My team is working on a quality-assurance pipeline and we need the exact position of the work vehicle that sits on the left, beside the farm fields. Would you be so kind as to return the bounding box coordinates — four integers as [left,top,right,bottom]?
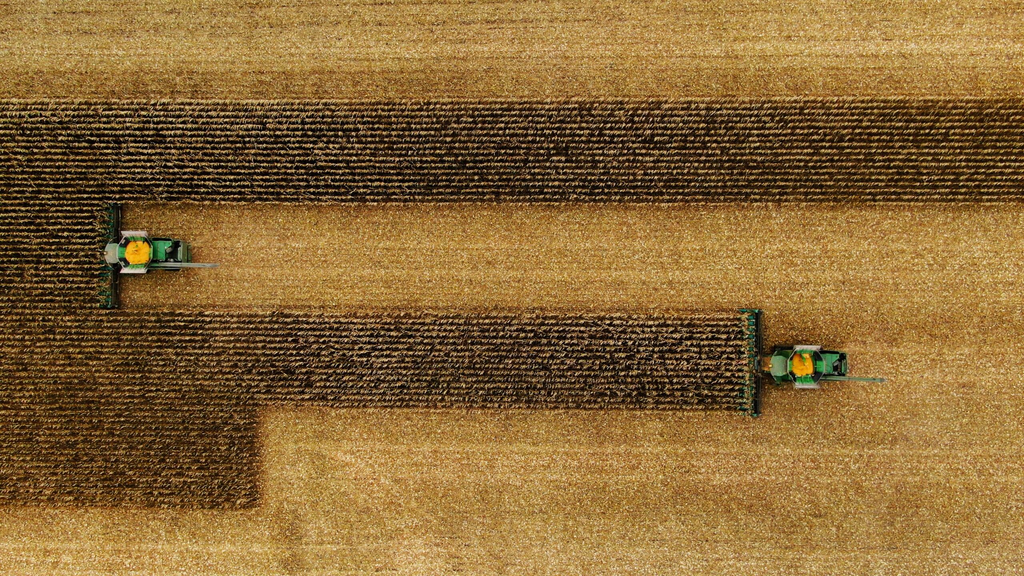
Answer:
[100,203,219,306]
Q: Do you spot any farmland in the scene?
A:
Yes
